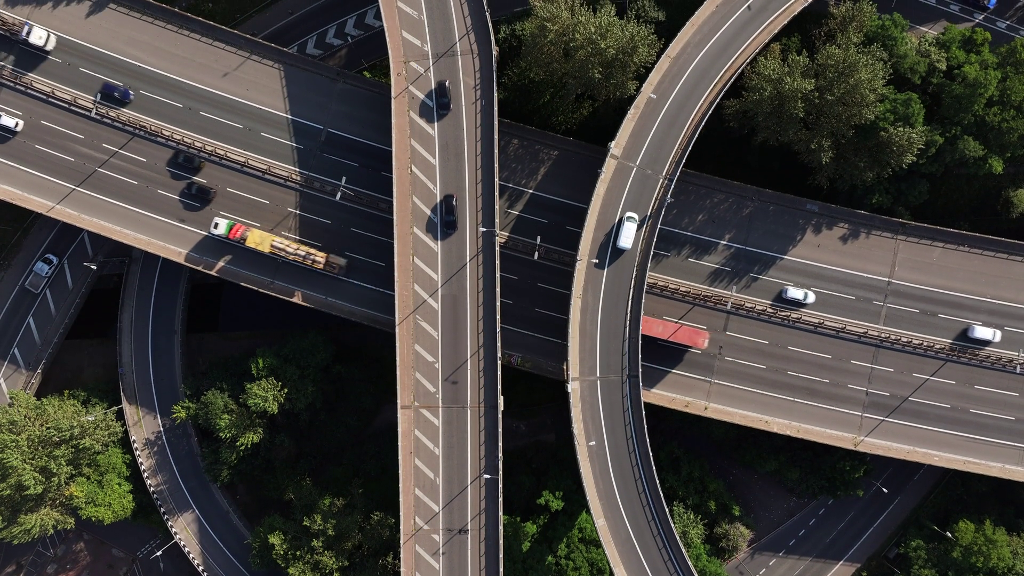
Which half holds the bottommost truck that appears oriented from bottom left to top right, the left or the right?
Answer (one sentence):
You can find the bottommost truck that appears oriented from bottom left to top right on the left side of the picture.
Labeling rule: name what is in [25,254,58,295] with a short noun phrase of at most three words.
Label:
truck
